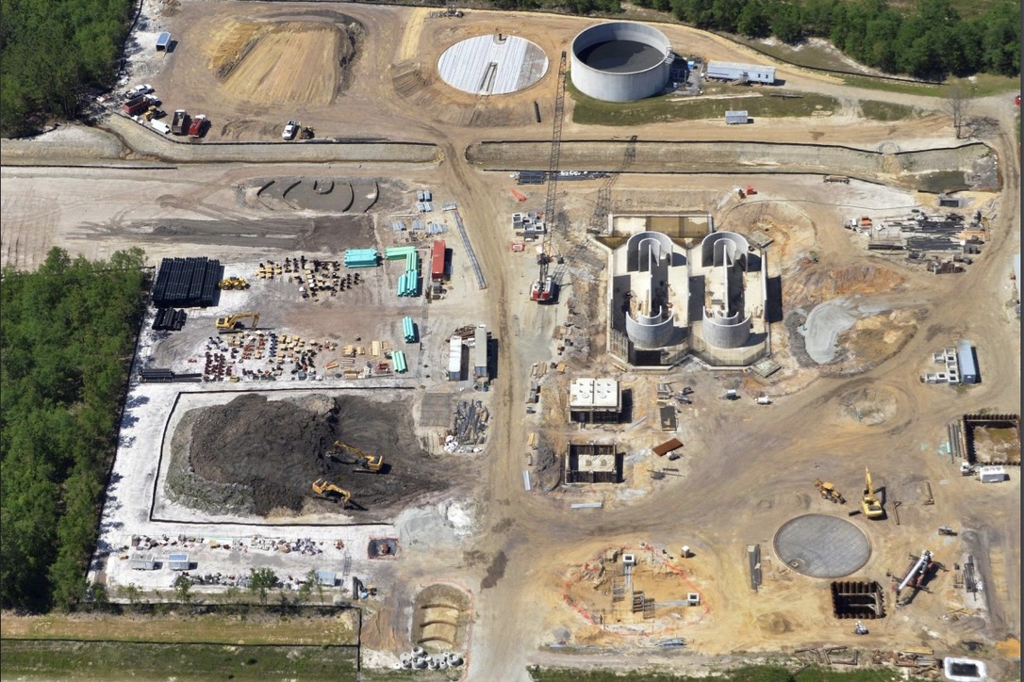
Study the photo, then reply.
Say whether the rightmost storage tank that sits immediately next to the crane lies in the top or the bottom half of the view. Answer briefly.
top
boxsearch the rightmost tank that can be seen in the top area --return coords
[570,19,678,103]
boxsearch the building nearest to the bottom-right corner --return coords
[569,378,621,425]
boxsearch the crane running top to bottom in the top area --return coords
[530,50,565,296]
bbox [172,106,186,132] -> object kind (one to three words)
vehicle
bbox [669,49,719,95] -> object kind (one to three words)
building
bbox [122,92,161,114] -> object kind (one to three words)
truck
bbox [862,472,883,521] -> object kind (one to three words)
work vehicle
